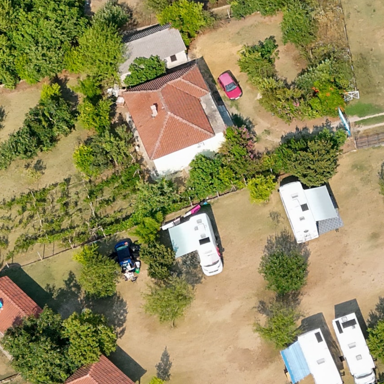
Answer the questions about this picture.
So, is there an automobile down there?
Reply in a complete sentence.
Yes, the photo shows an automobile.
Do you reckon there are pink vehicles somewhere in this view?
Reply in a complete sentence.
Yes, there is a pink vehicle in the image.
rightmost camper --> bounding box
[332,313,379,384]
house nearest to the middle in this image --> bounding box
[122,63,227,173]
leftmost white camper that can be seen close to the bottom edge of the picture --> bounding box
[282,329,346,384]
